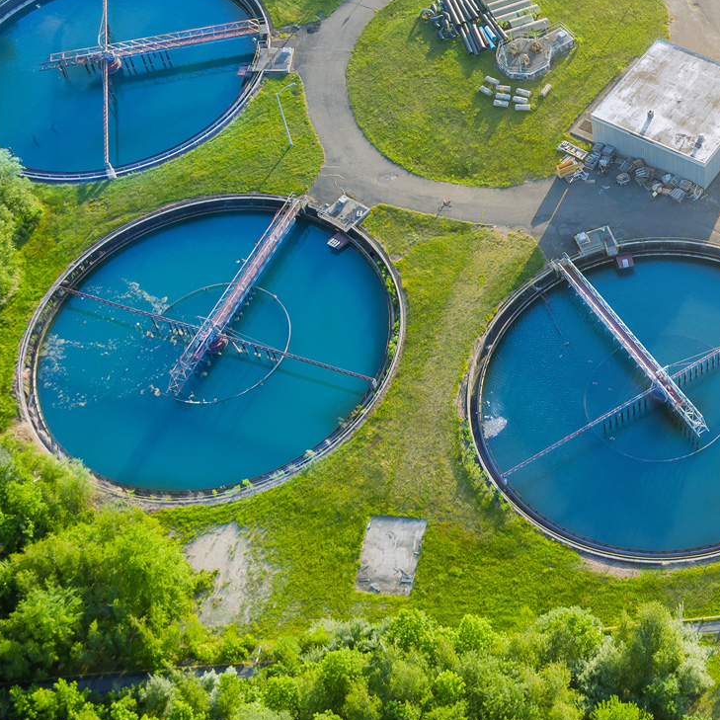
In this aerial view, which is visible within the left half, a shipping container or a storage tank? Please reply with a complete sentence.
What appears within the left half is a storage tank.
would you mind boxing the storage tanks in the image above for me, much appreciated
[15,189,406,506]
[0,0,272,186]
[466,234,720,567]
